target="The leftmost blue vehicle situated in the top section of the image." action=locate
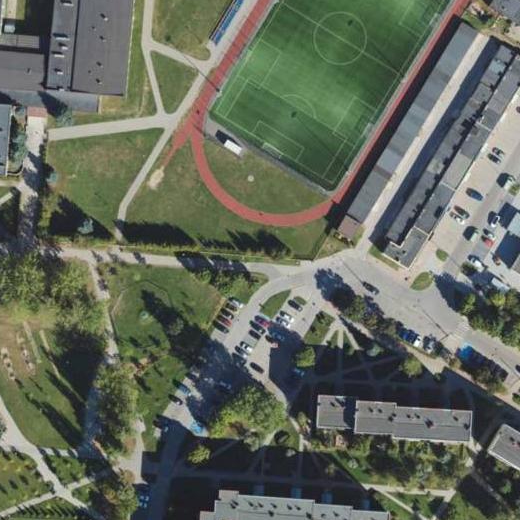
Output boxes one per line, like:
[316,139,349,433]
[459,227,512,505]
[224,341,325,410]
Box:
[466,188,481,201]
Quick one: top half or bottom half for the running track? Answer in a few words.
top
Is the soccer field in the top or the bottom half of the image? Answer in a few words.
top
